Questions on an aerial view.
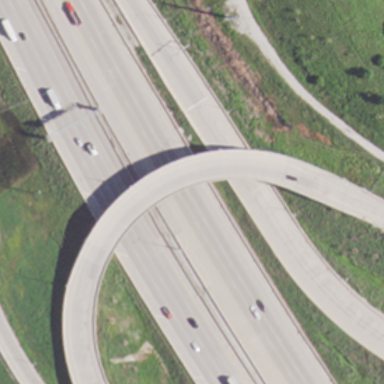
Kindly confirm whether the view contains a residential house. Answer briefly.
No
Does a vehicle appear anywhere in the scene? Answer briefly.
Yes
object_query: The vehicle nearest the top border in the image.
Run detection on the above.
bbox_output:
[66,2,81,25]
